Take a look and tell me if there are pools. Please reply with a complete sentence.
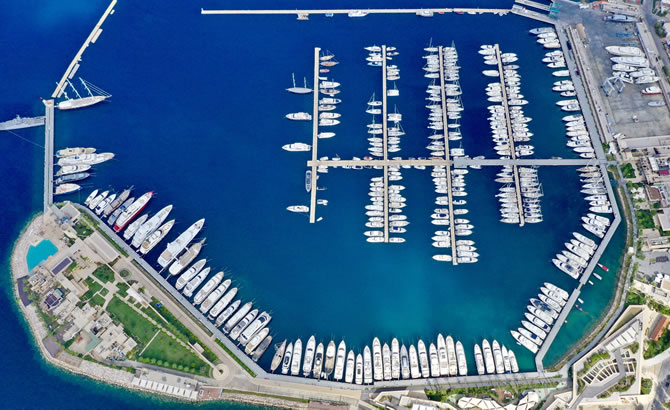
Yes, a pool can be made out from above.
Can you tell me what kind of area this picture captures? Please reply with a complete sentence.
The area seen from above is a port.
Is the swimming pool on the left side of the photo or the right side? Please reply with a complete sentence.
It is on the left.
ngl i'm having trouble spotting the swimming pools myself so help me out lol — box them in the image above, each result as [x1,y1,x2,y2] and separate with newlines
[26,239,59,273]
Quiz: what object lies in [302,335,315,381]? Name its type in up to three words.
boat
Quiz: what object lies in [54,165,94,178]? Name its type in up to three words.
boat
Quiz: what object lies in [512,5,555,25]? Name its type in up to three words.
pier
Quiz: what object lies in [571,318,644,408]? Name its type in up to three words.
building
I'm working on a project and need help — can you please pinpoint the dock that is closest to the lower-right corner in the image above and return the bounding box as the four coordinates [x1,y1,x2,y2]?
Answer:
[534,288,581,371]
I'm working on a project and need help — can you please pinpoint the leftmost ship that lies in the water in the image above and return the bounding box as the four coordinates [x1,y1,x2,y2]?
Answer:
[0,111,50,146]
